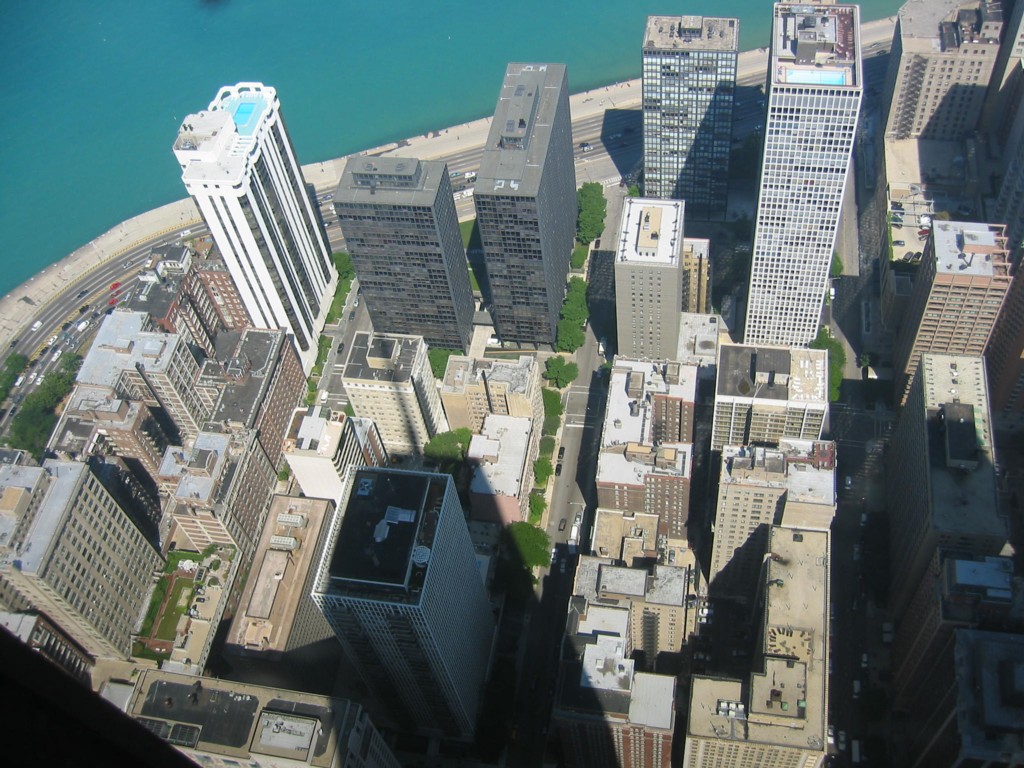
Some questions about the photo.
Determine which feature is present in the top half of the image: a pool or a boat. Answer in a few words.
pool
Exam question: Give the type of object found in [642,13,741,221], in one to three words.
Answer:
building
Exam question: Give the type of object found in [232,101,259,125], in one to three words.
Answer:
swimming pool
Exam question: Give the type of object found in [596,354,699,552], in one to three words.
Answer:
building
